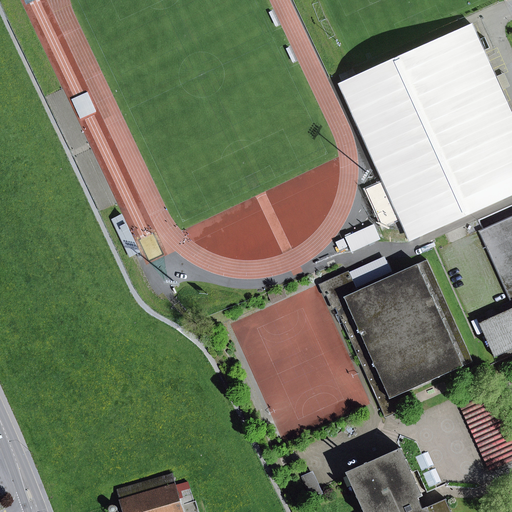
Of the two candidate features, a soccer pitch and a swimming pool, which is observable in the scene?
soccer pitch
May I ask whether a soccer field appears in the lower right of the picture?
No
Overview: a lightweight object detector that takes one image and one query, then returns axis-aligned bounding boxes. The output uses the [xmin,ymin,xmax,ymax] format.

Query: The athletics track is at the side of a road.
[48,0,360,278]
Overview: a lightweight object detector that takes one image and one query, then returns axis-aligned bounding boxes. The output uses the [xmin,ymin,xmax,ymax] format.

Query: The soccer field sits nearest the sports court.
[71,0,338,258]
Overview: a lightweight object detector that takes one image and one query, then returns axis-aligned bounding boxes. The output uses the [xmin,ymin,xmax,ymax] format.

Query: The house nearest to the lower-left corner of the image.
[116,473,198,512]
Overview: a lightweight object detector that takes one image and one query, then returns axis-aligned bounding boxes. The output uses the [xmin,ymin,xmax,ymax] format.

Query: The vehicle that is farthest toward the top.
[416,242,436,254]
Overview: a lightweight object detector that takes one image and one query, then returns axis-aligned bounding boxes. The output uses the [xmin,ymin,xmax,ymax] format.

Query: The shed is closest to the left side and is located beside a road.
[112,214,140,257]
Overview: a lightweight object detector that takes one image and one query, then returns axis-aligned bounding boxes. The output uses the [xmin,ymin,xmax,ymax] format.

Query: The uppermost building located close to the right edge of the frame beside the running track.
[338,24,512,241]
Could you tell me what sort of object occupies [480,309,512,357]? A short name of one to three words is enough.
building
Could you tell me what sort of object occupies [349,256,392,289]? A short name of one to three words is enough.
building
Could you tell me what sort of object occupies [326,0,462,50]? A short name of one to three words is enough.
soccer field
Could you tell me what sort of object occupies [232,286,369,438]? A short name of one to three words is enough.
sports court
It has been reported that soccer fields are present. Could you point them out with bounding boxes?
[326,0,462,50]
[71,0,338,258]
